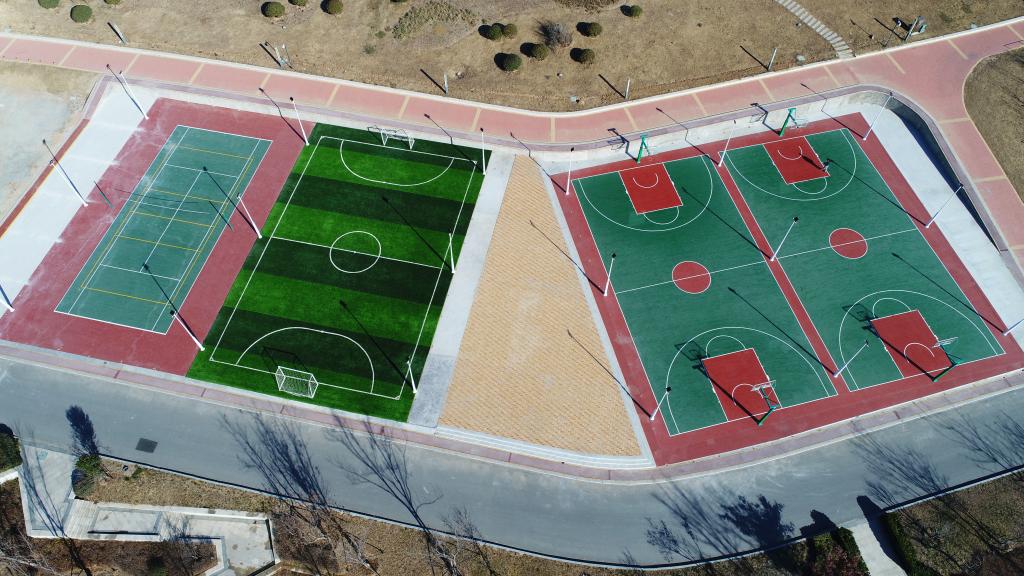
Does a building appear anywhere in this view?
No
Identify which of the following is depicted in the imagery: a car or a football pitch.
football pitch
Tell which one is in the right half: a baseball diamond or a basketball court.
basketball court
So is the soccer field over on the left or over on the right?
left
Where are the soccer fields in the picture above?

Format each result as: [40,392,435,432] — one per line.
[187,122,492,423]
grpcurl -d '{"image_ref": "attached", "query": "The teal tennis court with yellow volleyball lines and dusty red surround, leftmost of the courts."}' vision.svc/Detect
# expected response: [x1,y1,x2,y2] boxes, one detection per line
[0,98,315,377]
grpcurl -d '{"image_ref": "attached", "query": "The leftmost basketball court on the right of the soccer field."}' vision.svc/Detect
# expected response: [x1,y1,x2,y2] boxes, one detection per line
[550,143,849,466]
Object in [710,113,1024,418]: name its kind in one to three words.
basketball court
